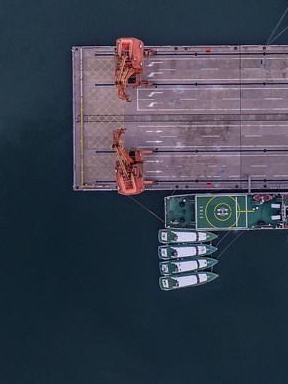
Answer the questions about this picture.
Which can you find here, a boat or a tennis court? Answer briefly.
boat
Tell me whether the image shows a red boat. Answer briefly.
No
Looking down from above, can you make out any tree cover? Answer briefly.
No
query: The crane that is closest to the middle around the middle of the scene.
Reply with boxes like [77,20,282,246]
[113,128,155,195]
